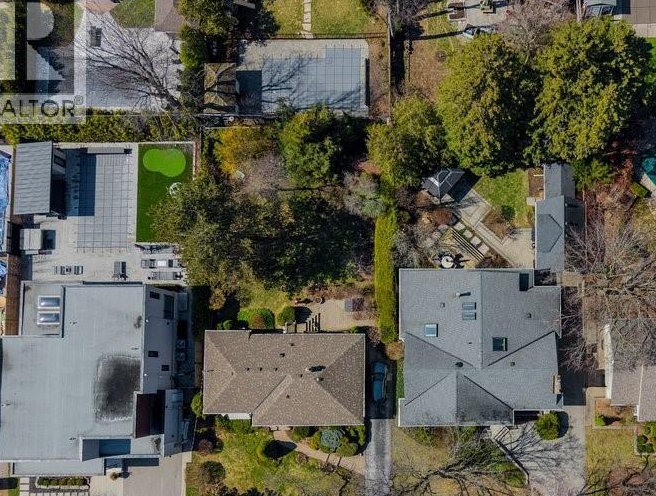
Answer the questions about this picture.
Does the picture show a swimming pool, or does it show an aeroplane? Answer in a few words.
swimming pool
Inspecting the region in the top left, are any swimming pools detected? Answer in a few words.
Yes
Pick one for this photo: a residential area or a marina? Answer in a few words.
residential area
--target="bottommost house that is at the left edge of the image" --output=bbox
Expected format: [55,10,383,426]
[0,284,192,477]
